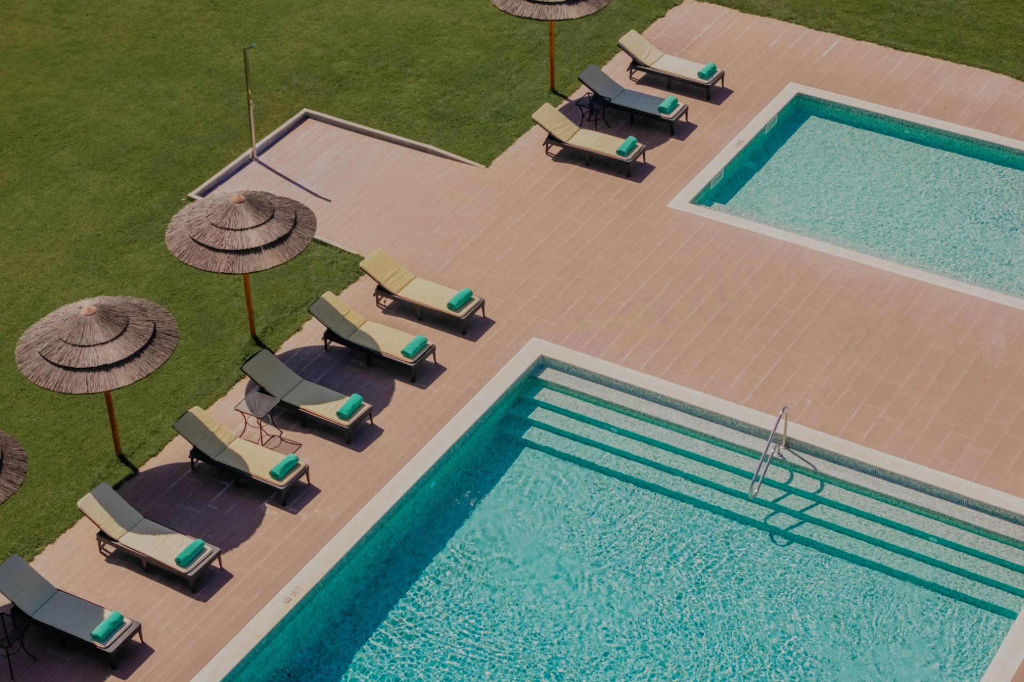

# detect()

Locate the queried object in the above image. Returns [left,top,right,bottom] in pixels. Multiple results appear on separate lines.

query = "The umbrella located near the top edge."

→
[489,0,609,89]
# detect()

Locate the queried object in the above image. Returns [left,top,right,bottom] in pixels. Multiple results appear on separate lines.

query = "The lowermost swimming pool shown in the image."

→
[190,338,1024,682]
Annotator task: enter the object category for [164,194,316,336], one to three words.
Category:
umbrella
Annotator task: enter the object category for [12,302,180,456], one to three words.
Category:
umbrella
